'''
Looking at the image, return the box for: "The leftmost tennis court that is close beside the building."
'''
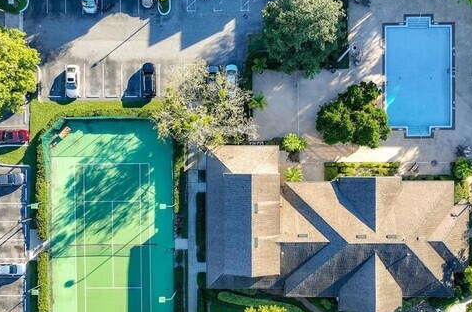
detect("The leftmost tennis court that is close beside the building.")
[51,120,173,312]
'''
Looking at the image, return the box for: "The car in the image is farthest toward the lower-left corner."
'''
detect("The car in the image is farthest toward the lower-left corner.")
[0,262,28,277]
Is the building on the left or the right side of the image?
right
